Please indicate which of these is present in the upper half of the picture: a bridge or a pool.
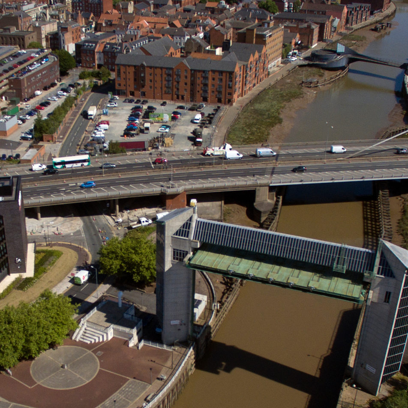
bridge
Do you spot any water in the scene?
Yes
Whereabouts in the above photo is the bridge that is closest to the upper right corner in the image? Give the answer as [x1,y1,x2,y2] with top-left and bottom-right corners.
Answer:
[304,42,405,75]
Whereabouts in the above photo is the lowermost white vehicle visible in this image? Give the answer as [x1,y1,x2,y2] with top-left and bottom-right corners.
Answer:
[73,268,90,285]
